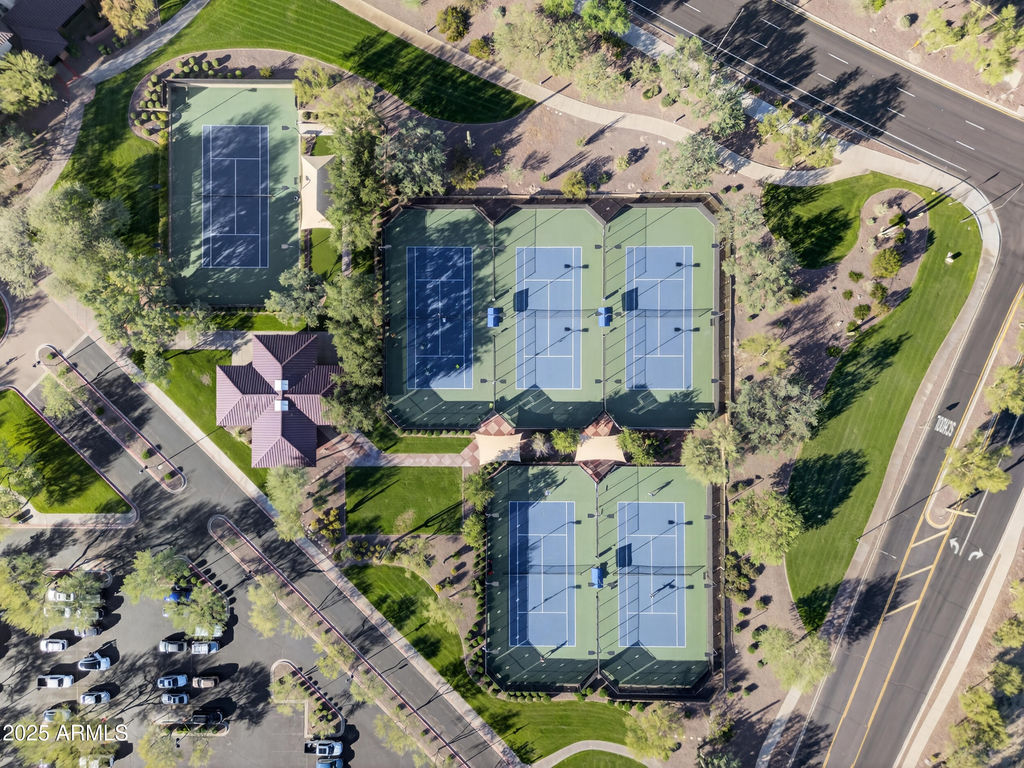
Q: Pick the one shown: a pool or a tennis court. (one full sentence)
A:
Looking from above, you can make out a tennis court.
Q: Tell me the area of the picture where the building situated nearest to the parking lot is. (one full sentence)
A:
The building situated nearest to the parking lot is in the left part of the image.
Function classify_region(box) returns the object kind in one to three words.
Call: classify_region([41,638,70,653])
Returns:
car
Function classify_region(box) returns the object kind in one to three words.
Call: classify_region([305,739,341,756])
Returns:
vehicle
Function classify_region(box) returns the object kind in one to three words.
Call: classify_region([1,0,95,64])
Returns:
house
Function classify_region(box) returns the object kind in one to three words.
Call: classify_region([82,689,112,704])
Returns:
car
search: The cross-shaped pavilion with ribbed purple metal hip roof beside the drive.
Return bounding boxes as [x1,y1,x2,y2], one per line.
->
[216,334,343,468]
